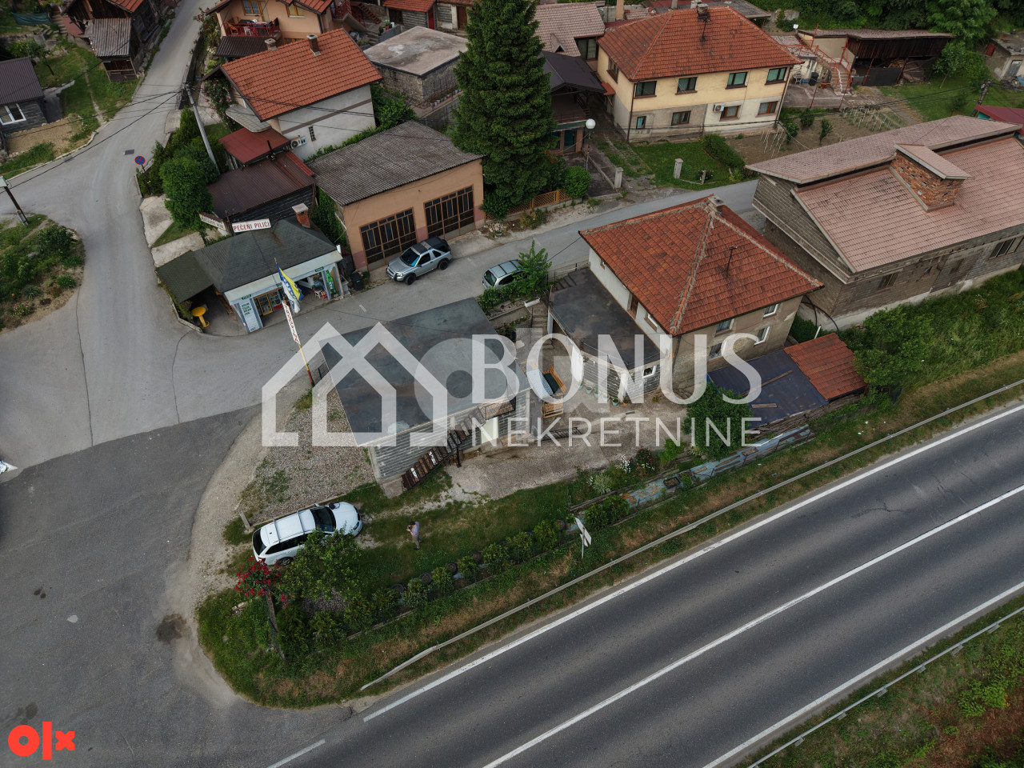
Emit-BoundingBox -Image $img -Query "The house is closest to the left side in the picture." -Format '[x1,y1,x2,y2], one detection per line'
[0,57,60,133]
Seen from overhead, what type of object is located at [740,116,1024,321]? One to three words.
building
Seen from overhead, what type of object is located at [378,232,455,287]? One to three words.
car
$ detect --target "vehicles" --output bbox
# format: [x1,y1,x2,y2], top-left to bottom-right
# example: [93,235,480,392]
[378,232,455,287]
[248,507,365,574]
[484,254,536,295]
